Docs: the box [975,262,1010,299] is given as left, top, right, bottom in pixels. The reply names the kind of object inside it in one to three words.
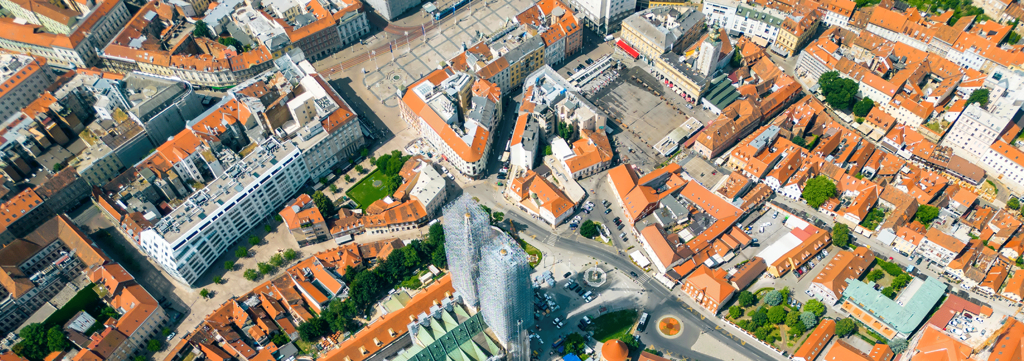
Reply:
house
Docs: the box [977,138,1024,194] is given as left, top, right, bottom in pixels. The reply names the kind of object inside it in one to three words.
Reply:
building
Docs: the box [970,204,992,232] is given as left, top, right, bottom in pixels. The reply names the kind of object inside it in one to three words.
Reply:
house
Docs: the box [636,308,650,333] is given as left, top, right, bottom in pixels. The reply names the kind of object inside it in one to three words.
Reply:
vehicle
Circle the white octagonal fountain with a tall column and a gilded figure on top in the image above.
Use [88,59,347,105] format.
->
[583,261,607,288]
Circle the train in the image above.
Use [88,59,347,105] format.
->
[434,0,473,21]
